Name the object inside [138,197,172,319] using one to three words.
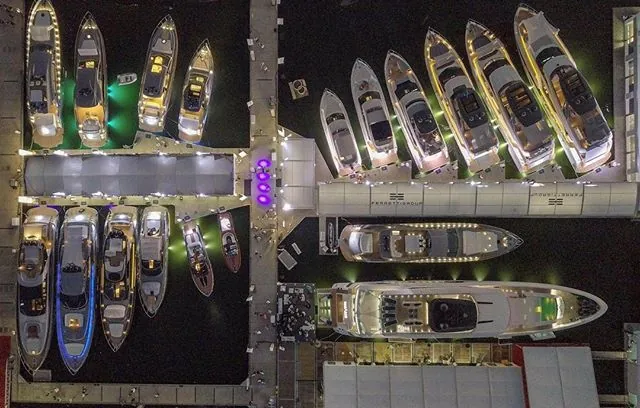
boat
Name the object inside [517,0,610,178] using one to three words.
boat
